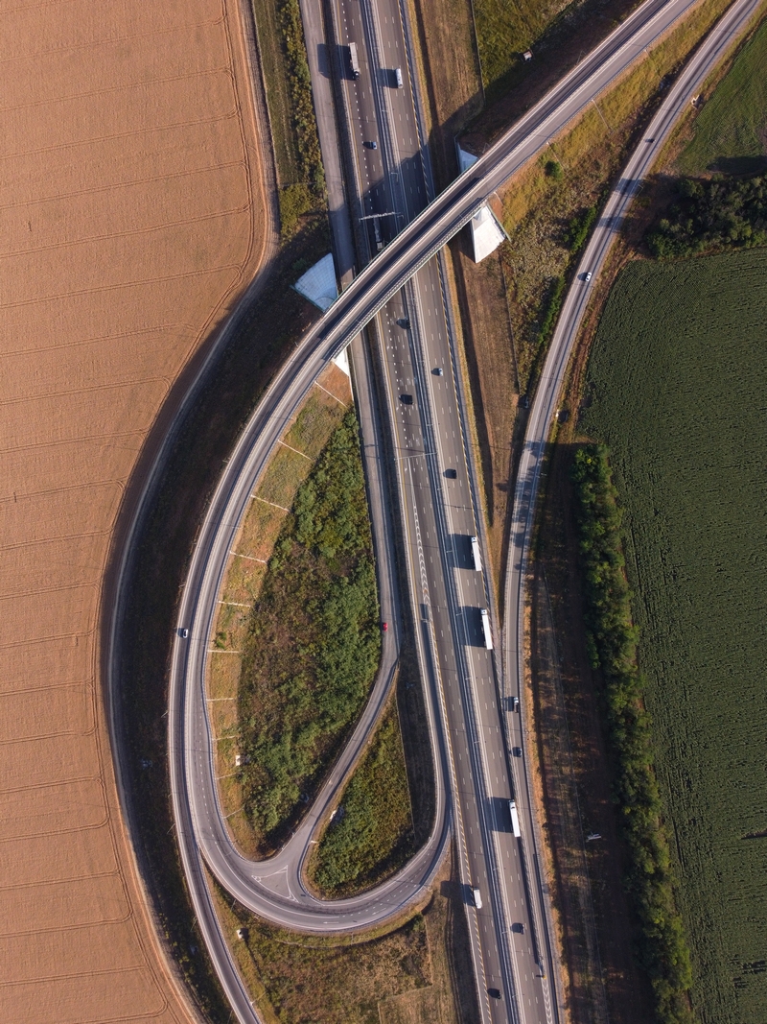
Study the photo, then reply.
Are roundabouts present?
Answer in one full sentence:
No, the scene contains no roundabout.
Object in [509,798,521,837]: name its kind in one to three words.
vehicle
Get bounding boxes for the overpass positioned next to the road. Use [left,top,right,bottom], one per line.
[293,134,523,411]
